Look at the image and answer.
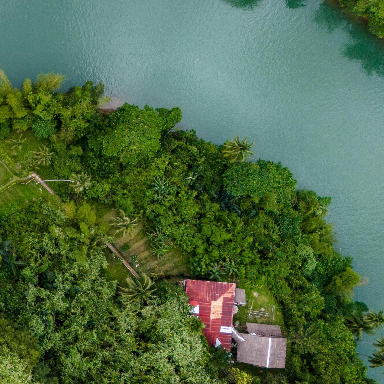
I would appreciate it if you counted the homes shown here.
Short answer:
2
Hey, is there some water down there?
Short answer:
Yes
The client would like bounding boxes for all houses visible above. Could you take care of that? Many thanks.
[236,334,286,367]
[183,280,236,351]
